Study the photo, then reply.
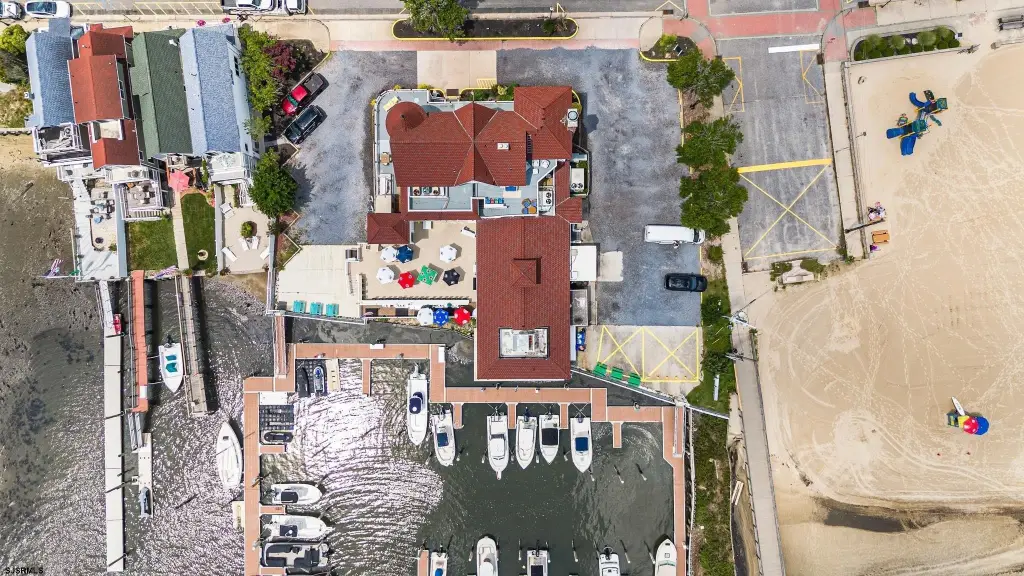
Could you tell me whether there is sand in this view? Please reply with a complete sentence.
Yes, sand shows up in the scene.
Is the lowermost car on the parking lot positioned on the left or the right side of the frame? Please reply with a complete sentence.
The lowermost car on the parking lot is on the right side of the image.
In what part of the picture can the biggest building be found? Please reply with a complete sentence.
Look in the center portion of the view to spot the biggest building.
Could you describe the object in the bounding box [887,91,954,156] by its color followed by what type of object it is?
blue playground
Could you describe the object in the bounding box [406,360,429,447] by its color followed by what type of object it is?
white boat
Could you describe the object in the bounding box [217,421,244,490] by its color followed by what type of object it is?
white boat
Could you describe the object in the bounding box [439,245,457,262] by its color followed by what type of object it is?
white umbrella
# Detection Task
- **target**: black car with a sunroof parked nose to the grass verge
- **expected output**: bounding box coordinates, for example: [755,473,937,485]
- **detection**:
[663,272,705,292]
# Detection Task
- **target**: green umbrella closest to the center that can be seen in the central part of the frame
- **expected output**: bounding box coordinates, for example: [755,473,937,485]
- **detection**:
[417,264,439,285]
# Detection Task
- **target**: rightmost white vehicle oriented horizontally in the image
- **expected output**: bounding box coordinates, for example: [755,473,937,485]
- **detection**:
[643,225,705,246]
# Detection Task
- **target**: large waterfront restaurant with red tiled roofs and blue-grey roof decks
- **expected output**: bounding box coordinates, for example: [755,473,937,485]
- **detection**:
[367,86,582,383]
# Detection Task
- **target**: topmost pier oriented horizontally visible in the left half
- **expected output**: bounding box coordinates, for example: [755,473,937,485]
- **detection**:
[296,344,430,359]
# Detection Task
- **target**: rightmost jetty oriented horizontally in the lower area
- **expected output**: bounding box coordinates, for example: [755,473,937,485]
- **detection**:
[608,405,662,422]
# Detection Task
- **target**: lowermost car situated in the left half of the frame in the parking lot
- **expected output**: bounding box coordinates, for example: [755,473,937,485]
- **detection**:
[286,106,327,144]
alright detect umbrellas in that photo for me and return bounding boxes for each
[396,245,414,261]
[439,245,457,262]
[380,245,397,263]
[433,308,449,325]
[443,268,460,286]
[398,271,415,288]
[377,265,394,284]
[168,170,191,193]
[962,417,977,431]
[417,264,439,285]
[974,415,990,434]
[453,308,470,324]
[417,307,434,326]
